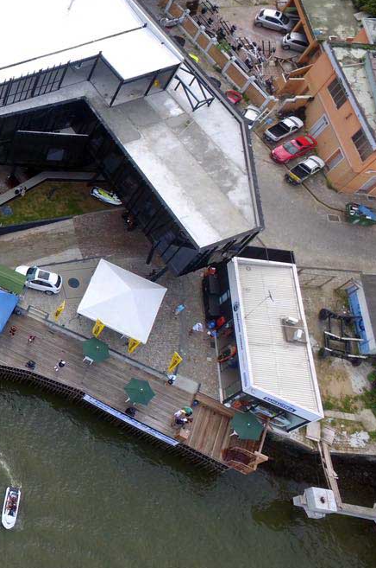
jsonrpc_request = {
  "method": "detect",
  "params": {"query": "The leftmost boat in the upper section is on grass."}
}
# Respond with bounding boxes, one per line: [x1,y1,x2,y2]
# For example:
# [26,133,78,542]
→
[90,186,123,206]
